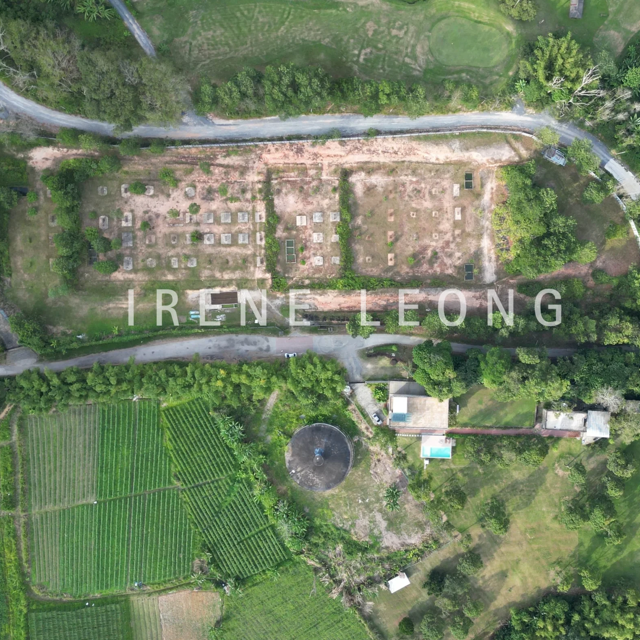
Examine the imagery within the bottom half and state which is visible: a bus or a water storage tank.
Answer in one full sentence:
There is a water storage tank within the bottom half.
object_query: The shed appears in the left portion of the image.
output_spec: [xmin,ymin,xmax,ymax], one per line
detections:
[211,292,238,304]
